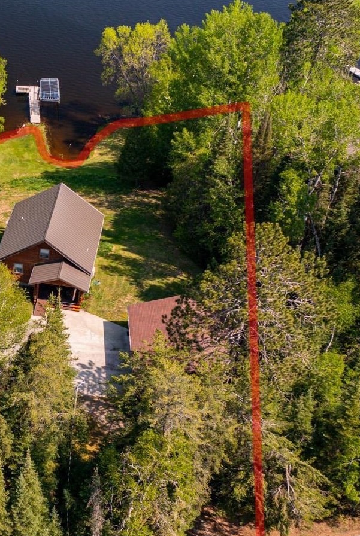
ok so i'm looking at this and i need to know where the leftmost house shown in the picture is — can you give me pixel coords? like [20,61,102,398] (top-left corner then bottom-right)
[0,182,104,323]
